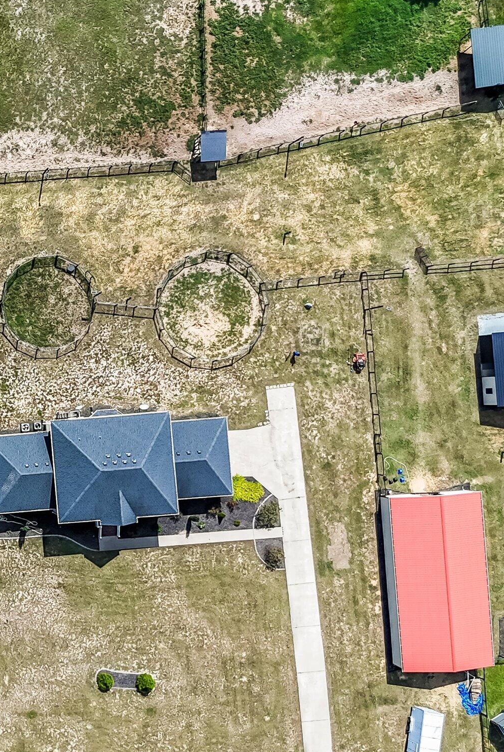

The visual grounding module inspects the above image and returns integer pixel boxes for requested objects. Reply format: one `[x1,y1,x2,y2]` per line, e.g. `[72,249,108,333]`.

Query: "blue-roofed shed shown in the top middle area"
[194,129,226,166]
